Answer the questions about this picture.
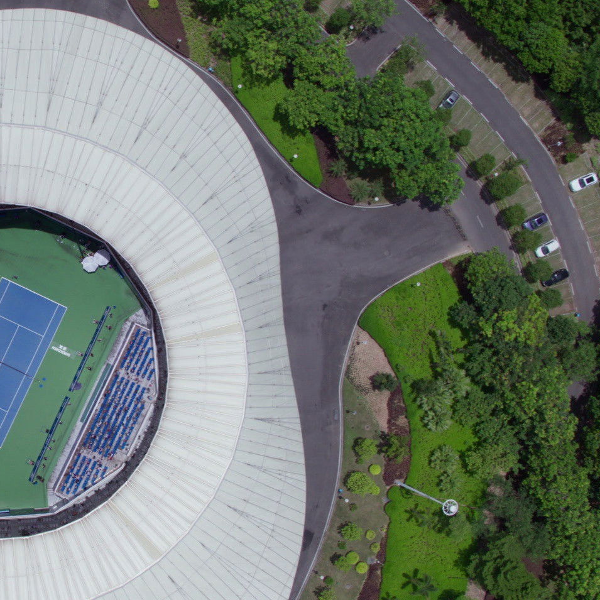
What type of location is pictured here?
sports ground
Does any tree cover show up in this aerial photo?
Yes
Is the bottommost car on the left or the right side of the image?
right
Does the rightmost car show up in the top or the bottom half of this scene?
top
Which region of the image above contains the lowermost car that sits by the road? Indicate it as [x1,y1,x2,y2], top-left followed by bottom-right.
[541,268,571,288]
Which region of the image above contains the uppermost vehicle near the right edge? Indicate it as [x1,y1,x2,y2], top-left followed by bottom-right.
[568,171,599,192]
